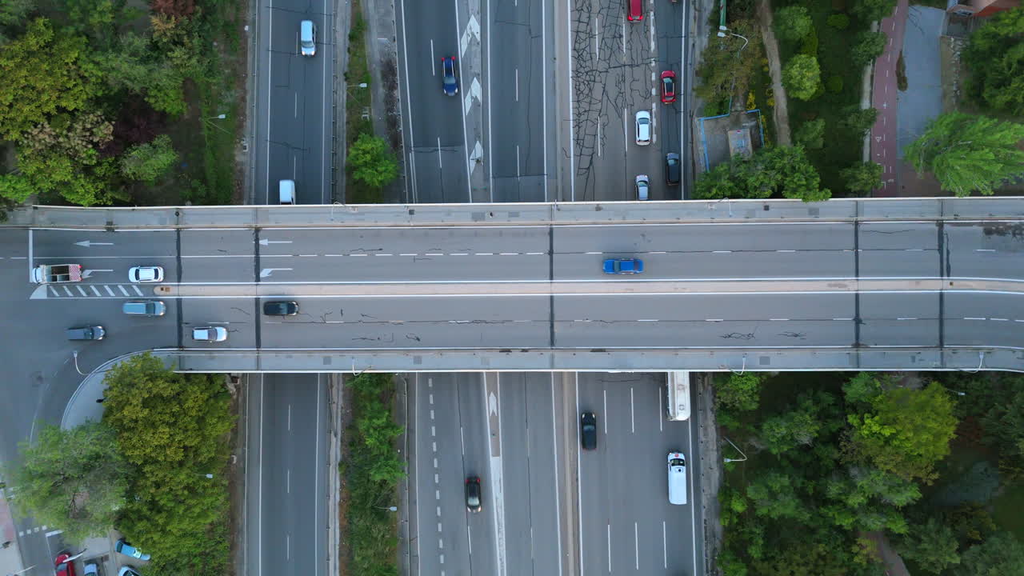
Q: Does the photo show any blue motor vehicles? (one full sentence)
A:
Yes, a blue motor vehicle is visible in the scene.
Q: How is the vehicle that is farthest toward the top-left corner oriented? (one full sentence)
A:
Seen from above, the vehicle that is farthest toward the top-left corner lies from side to side.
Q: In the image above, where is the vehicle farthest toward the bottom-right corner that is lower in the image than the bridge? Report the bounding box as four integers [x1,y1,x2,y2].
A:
[666,451,688,506]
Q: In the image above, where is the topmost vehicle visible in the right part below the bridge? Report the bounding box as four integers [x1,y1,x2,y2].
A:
[666,371,692,423]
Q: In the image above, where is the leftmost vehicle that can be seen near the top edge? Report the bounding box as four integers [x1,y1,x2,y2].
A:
[299,19,318,58]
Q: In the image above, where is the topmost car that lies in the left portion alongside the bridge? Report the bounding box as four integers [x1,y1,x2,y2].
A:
[278,177,297,204]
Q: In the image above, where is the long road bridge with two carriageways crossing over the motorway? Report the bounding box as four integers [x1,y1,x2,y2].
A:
[32,196,1024,373]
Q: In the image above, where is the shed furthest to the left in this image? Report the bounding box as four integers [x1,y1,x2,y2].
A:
[724,130,752,162]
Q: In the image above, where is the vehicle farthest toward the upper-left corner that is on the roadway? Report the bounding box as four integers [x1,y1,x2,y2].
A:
[33,264,84,284]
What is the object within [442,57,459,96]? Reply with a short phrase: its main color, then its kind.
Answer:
blue car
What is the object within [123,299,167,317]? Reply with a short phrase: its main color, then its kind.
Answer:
blue car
